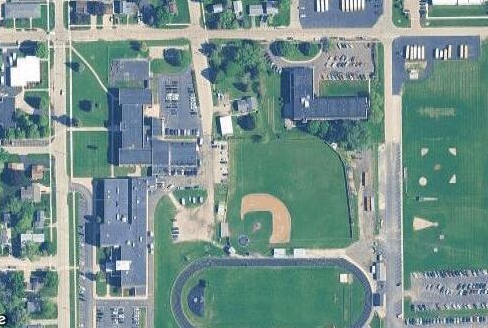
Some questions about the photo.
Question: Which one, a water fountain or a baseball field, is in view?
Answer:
baseball field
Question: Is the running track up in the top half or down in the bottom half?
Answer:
bottom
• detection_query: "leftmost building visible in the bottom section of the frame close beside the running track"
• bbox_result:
[100,179,147,288]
